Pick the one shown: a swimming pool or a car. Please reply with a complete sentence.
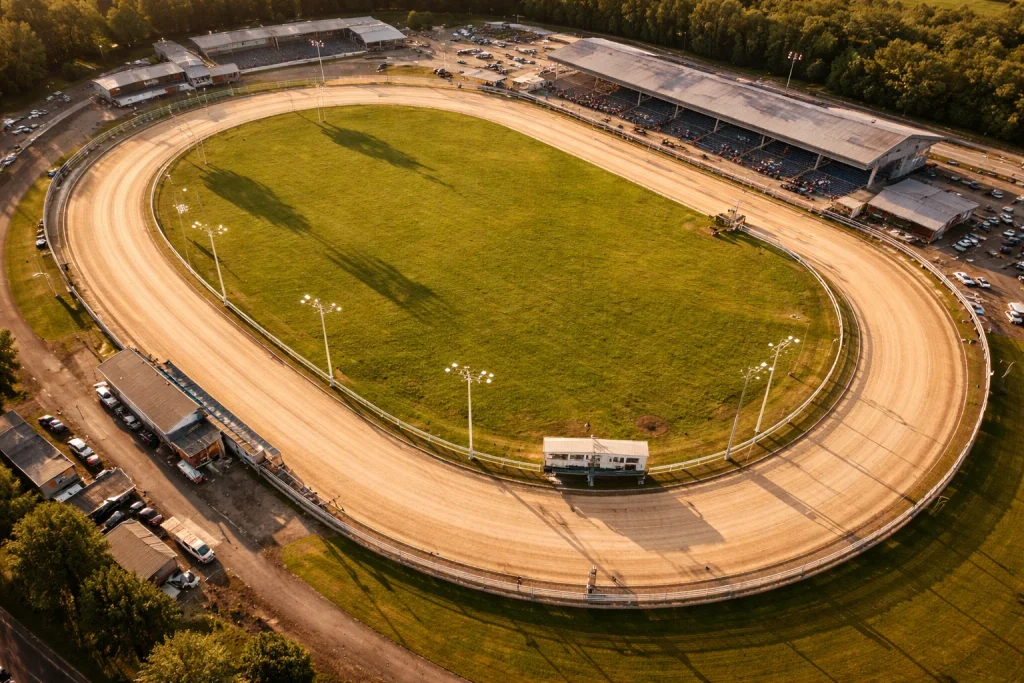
Looking from above, you can make out a car.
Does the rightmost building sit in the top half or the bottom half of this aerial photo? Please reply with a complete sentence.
Seen from above, the rightmost building lies in the top half of the view.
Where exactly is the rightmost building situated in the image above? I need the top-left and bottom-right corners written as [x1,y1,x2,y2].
[866,178,979,245]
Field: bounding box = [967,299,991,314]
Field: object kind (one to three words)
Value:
car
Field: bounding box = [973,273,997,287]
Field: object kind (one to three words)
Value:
car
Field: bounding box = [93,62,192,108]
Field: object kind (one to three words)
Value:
building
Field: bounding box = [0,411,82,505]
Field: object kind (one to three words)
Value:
building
